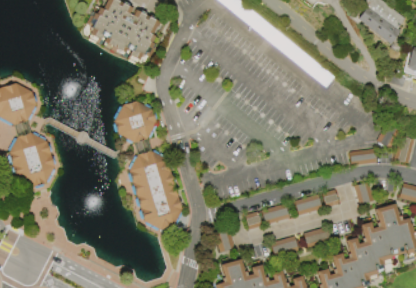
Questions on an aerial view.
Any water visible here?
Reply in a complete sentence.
Yes, some water is visible.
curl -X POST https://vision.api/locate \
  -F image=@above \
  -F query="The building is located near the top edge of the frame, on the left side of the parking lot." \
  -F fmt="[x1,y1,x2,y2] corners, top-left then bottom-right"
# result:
[91,0,160,58]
